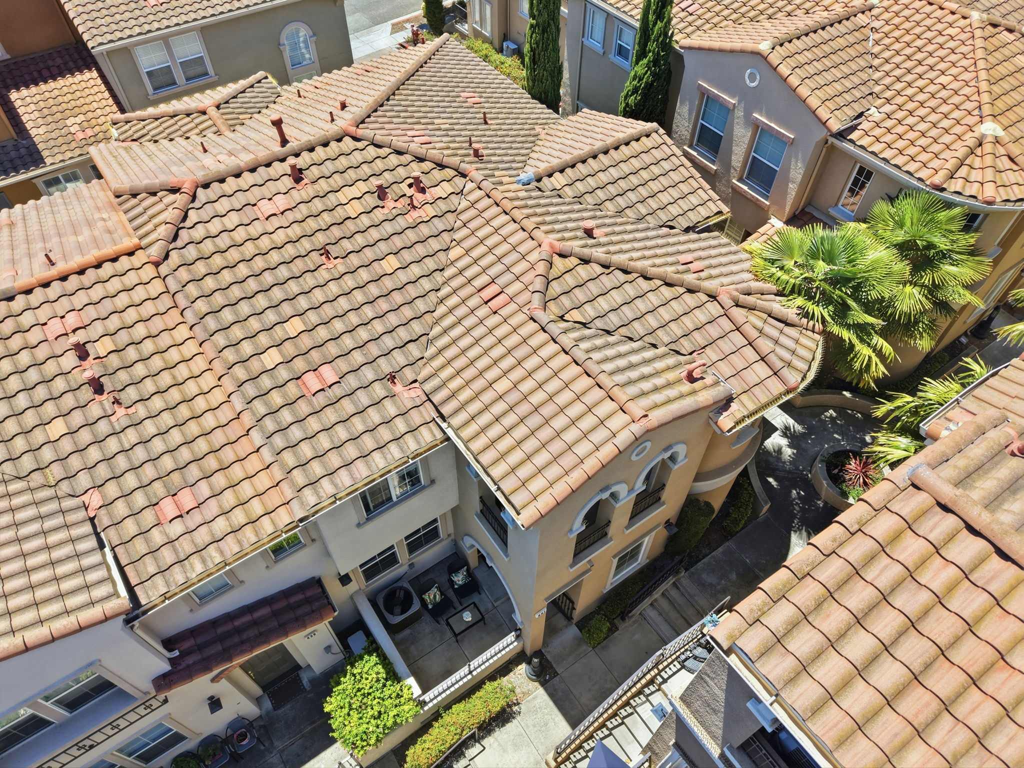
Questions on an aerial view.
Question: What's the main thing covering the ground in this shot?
buildings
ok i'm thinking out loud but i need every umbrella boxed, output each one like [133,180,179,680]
[570,738,611,768]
